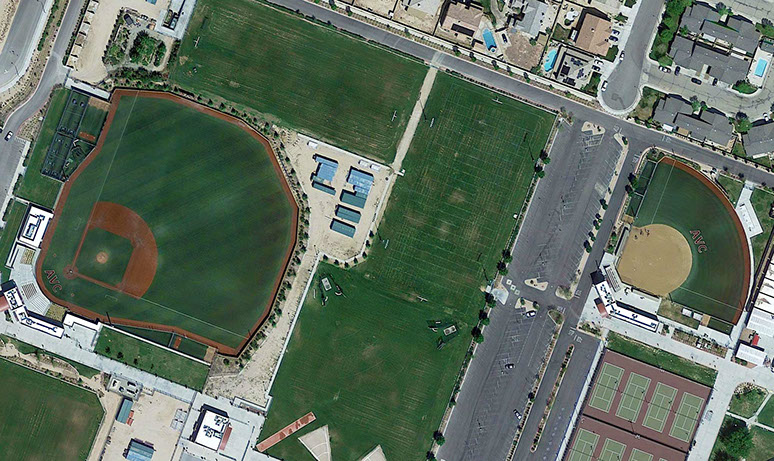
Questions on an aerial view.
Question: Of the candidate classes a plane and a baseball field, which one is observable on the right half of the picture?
baseball field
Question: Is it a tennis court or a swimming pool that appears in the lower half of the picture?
tennis court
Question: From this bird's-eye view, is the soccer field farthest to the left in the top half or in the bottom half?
bottom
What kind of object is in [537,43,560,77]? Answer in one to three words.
swimming pool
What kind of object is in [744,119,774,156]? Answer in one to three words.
building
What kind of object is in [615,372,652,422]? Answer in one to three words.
tennis court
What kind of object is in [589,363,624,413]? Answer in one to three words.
tennis court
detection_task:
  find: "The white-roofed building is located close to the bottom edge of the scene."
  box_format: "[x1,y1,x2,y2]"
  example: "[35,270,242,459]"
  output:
[194,410,228,453]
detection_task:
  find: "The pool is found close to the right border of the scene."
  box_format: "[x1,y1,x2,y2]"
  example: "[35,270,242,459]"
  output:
[747,47,774,88]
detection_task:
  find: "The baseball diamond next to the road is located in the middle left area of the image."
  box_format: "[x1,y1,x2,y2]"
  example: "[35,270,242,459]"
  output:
[36,90,298,356]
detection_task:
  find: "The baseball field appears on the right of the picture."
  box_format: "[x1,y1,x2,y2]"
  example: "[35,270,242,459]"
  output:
[617,156,751,325]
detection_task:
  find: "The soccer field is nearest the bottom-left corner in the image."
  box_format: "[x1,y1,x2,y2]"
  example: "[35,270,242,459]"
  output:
[0,357,106,461]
